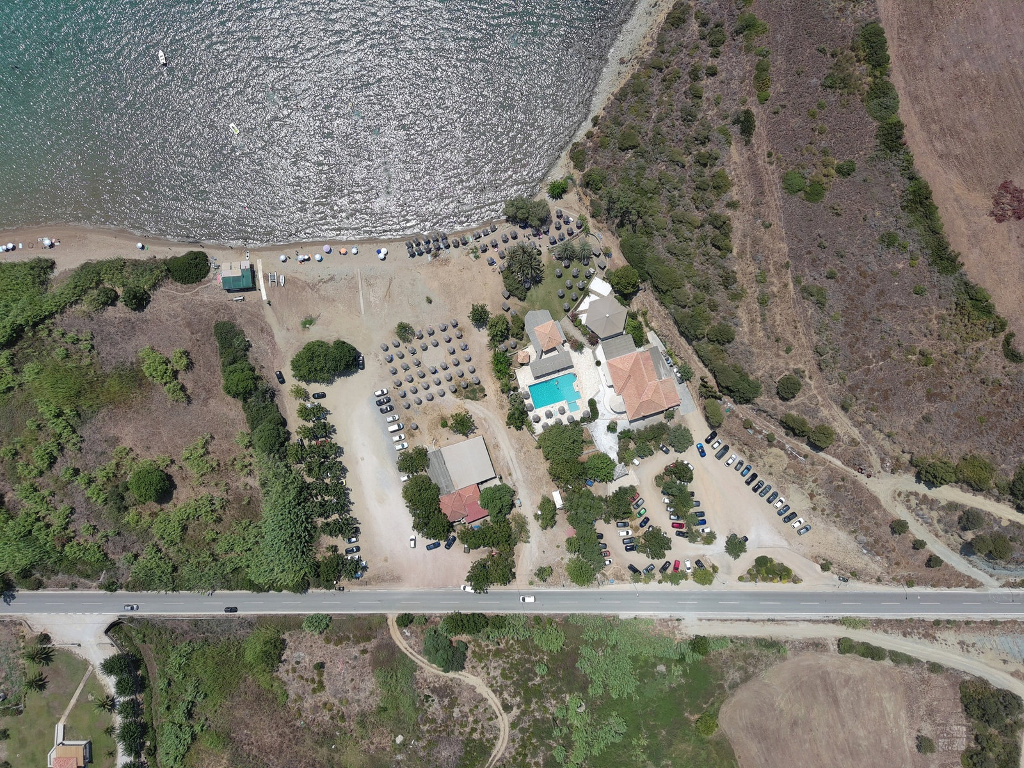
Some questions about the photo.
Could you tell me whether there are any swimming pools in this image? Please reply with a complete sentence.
Yes, a swimming pool is visible in the scene.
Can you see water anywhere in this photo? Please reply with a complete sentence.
Yes, water can be seen from above here.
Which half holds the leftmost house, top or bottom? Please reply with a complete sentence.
It is in the bottom half that the leftmost house appears.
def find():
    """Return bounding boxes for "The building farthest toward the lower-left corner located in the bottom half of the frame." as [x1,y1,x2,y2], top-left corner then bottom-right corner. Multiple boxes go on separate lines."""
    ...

[48,721,96,768]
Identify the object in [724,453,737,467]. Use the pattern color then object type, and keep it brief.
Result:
white vehicle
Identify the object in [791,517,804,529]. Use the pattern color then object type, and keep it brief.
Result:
white vehicle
